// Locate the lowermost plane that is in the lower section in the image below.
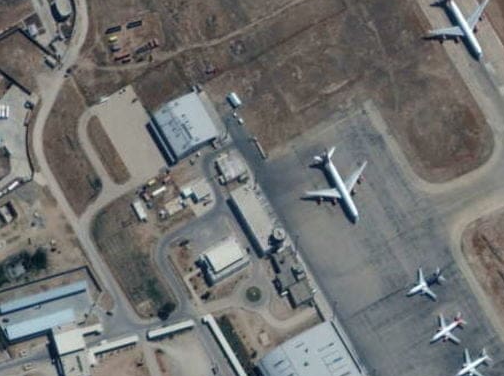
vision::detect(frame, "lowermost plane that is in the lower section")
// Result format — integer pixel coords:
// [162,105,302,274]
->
[455,350,491,376]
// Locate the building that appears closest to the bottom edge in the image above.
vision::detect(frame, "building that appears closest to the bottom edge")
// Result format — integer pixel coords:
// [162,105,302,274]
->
[62,350,94,376]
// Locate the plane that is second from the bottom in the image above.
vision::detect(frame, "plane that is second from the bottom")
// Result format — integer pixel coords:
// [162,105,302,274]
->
[431,313,467,343]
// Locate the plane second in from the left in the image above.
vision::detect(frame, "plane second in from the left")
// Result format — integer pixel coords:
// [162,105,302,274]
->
[406,267,443,299]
